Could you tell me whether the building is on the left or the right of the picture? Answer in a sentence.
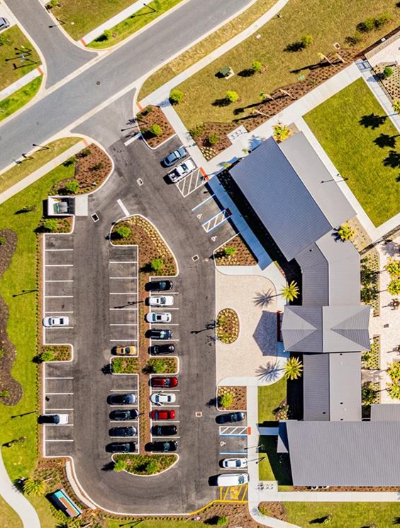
The building is on the right side of the image.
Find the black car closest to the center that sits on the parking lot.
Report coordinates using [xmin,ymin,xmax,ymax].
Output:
[146,280,173,292]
